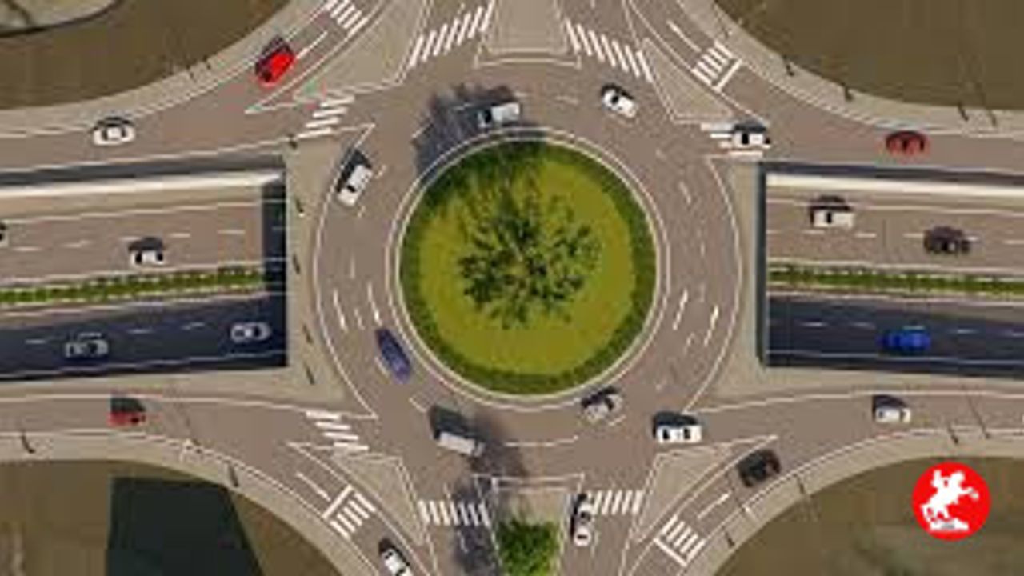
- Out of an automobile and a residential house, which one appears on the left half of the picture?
automobile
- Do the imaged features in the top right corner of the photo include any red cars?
Yes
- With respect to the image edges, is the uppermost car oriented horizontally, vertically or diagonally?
diagonally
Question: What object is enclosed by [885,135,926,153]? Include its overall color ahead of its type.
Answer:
red car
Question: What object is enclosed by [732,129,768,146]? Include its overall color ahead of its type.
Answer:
white car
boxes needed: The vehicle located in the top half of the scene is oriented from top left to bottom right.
[601,87,637,117]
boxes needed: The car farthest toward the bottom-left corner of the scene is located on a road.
[110,408,148,426]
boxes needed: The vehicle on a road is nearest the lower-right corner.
[871,404,909,422]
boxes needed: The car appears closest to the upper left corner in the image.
[94,123,134,141]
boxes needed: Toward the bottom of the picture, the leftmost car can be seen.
[66,340,108,356]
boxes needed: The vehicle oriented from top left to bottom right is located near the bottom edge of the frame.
[379,540,414,576]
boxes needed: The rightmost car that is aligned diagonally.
[738,451,780,486]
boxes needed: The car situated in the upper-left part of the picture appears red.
[259,47,294,83]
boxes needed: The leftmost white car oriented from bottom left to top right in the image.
[336,156,375,201]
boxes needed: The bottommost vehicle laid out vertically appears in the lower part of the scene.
[575,499,593,545]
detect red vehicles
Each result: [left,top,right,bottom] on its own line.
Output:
[110,408,148,426]
[259,47,294,83]
[885,135,926,153]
